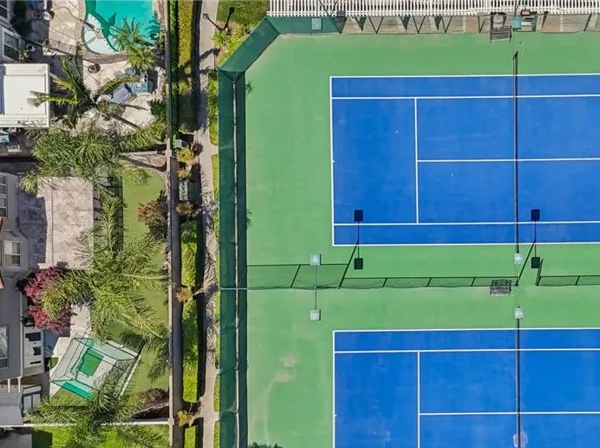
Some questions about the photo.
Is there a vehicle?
No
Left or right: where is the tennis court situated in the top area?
right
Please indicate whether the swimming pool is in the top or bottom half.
top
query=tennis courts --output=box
[333,328,600,448]
[330,72,600,246]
